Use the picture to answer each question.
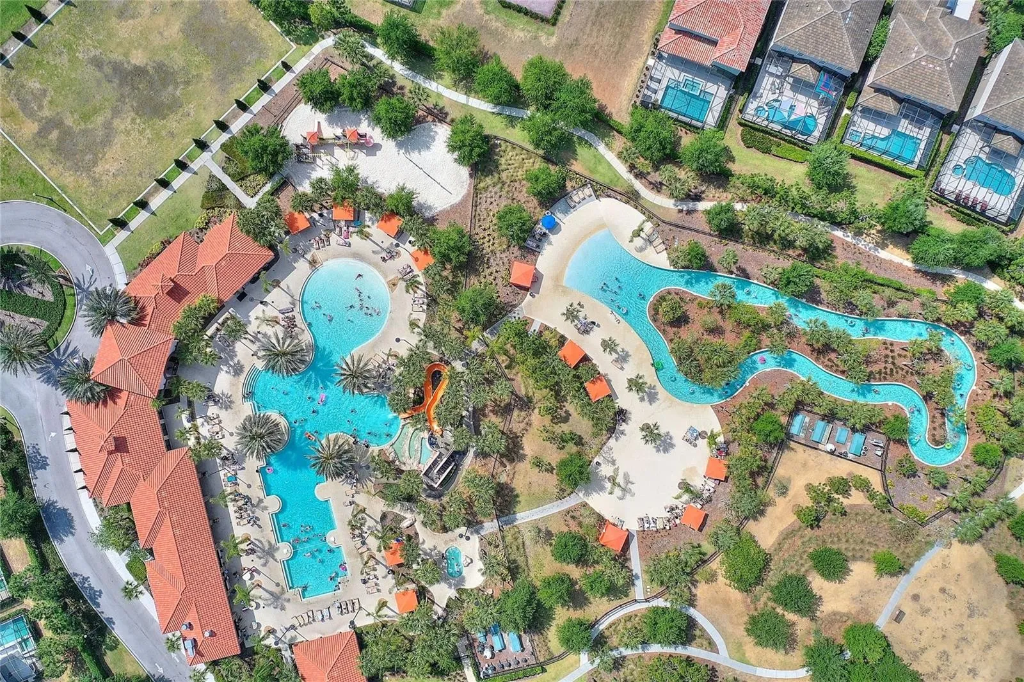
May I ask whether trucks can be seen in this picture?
No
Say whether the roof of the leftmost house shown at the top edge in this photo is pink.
Yes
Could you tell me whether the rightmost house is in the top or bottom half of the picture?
top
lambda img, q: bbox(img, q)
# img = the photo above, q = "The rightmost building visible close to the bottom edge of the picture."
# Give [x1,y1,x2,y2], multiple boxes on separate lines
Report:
[292,626,370,682]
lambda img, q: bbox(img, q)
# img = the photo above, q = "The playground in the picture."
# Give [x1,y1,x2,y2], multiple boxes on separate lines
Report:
[296,123,375,161]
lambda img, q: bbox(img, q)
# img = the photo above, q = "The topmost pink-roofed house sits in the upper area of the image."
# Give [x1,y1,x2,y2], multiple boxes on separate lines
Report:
[658,0,774,79]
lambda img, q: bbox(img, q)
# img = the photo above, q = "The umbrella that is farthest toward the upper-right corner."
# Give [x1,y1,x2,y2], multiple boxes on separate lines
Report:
[541,215,556,230]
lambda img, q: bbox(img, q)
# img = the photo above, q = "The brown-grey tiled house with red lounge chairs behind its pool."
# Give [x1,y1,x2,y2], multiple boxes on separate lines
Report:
[949,37,1024,157]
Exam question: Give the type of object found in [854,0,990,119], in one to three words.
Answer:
house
